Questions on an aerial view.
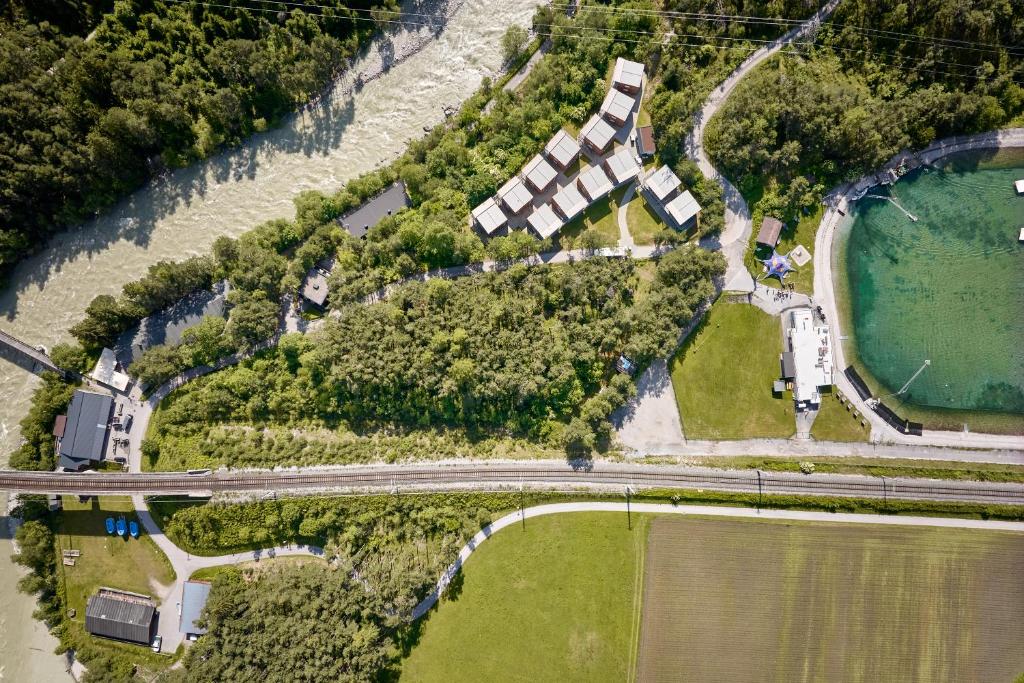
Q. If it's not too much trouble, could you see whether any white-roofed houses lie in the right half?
Yes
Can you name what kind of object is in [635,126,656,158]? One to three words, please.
shed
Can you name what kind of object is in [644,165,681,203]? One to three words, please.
house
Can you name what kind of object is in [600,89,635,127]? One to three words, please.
house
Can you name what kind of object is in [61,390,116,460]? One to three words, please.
building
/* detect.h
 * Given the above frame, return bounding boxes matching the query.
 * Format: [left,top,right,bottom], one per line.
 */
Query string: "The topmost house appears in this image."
[610,58,645,94]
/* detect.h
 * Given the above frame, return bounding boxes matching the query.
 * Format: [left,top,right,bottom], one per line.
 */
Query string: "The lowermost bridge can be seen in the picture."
[0,461,213,504]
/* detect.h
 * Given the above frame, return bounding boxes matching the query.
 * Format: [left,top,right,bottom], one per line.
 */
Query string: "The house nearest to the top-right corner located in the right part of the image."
[753,216,783,247]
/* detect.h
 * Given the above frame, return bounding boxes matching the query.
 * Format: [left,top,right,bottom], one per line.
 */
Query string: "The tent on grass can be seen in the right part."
[751,249,800,285]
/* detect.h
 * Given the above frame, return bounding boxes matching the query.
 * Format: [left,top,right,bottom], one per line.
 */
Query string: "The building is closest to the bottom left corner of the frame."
[87,586,161,643]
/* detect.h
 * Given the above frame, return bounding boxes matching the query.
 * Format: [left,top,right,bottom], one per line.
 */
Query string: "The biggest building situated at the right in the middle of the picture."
[783,311,832,403]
